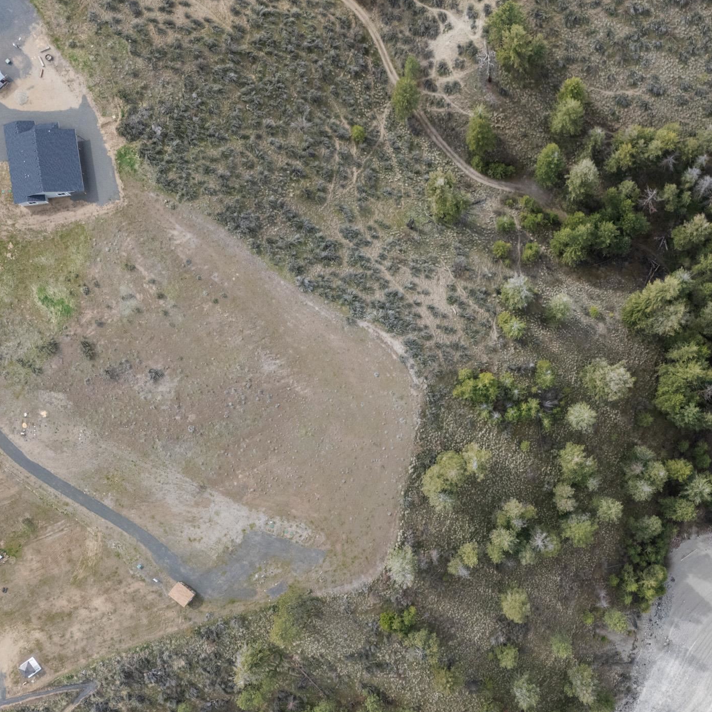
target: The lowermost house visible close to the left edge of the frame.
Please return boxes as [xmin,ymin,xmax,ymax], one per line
[4,121,90,207]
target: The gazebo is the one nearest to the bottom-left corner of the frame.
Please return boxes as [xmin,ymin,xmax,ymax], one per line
[19,656,43,677]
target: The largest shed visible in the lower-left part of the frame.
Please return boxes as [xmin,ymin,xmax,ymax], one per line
[169,581,198,607]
